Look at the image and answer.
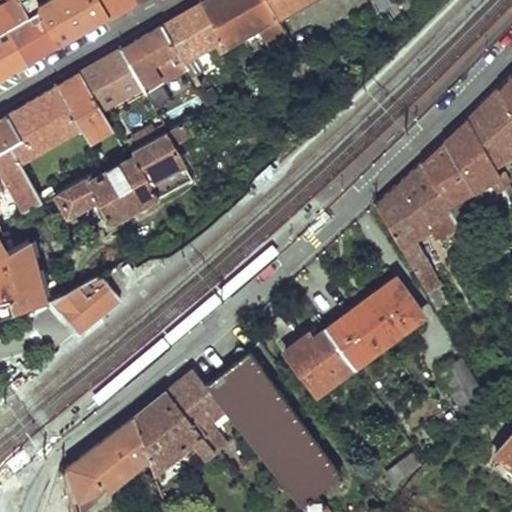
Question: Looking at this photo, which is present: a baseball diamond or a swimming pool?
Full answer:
There is a swimming pool in the scene.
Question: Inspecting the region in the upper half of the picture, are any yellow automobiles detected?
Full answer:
No, no yellow automobile appears in the upper half of the picture.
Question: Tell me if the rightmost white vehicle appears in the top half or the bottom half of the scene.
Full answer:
The rightmost white vehicle is in the top half of the image.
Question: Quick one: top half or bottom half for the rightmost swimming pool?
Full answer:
It is in the top half that the rightmost swimming pool appears.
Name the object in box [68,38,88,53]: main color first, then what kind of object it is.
white car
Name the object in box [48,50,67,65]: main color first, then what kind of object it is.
white car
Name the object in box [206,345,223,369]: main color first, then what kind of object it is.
white vehicle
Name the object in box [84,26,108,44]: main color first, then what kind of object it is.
white vehicle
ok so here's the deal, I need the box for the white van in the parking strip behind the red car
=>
[480,44,502,66]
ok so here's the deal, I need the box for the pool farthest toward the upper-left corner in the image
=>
[126,112,142,126]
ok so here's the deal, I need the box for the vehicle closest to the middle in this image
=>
[258,261,280,282]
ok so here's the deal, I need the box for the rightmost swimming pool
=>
[166,96,202,120]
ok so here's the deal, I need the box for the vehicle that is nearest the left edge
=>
[2,75,22,92]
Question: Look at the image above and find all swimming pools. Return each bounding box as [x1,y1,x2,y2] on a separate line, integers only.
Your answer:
[166,96,202,120]
[126,112,142,126]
